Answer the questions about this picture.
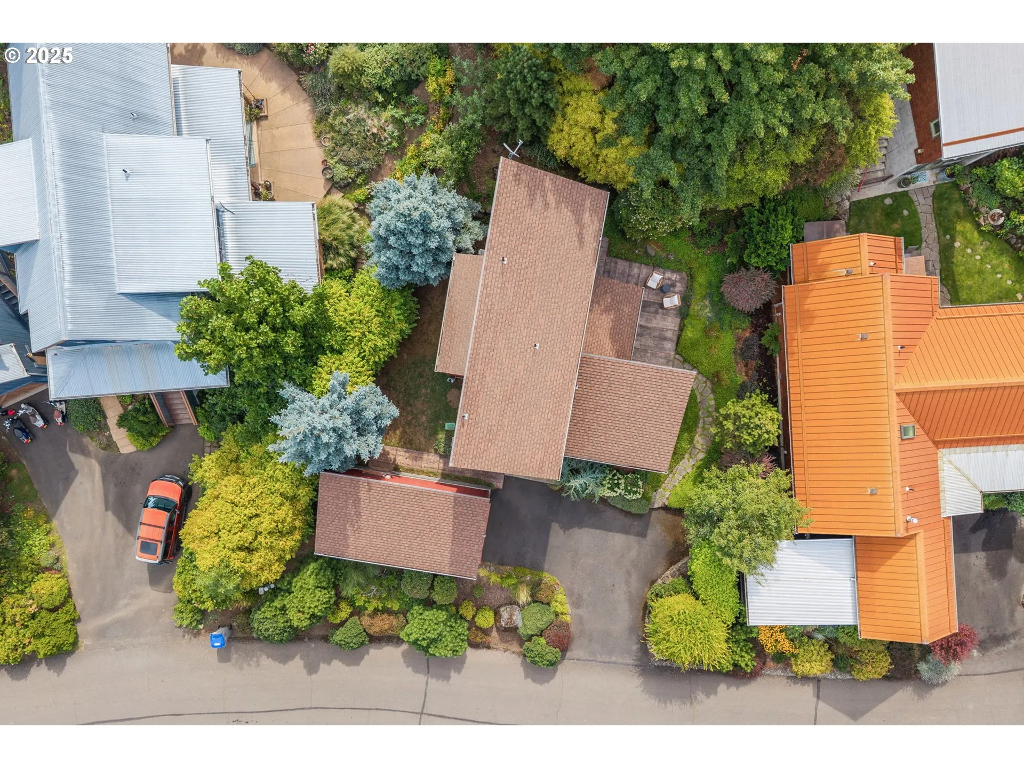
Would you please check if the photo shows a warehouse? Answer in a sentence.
No, the scene contains no warehouse.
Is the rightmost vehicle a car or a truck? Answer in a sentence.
I'd identify the rightmost vehicle as a car.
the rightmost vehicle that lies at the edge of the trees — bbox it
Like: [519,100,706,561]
[135,473,195,564]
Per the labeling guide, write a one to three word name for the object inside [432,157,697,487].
house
